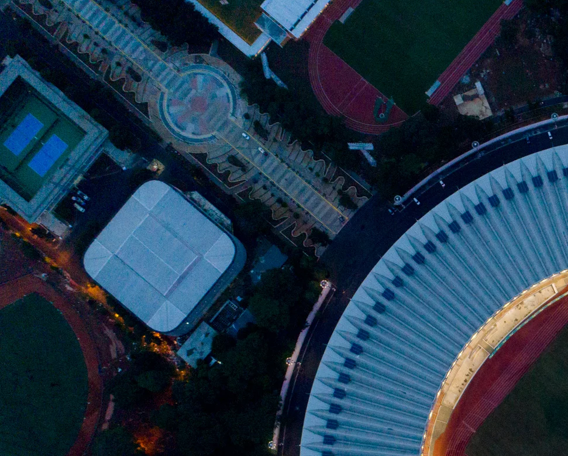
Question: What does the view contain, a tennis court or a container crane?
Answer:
tennis court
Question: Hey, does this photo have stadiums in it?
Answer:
Yes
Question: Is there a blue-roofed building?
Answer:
Yes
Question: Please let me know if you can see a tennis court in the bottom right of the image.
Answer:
No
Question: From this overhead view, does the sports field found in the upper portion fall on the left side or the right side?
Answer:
right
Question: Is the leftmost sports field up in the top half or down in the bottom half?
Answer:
bottom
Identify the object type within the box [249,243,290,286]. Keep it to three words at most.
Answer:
building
